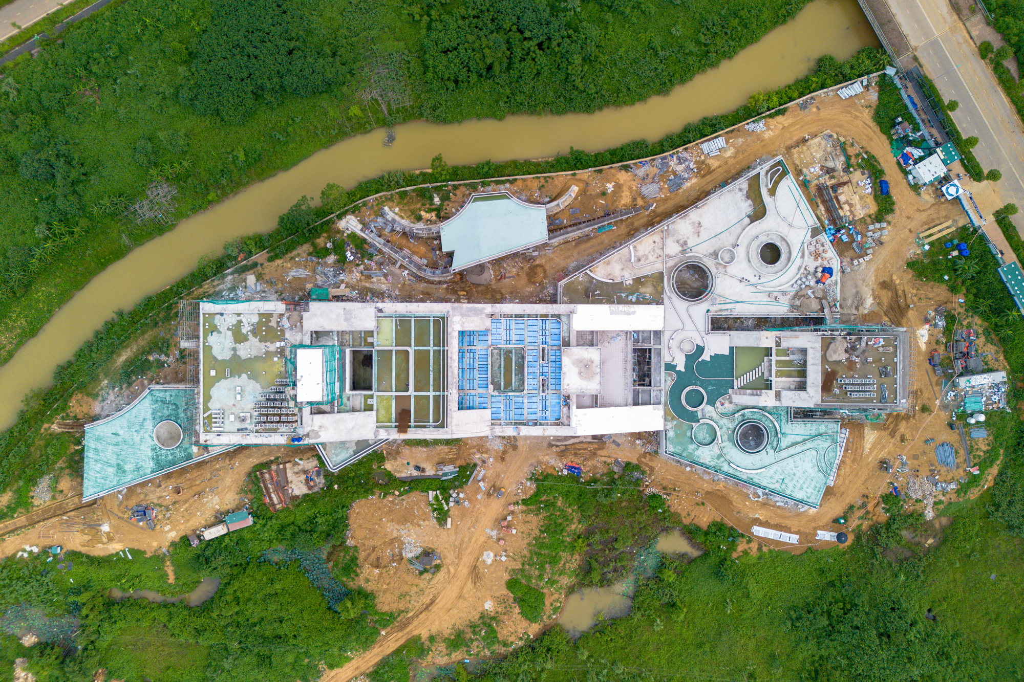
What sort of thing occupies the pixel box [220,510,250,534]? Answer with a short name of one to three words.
building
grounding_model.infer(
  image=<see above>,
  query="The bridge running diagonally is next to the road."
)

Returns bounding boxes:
[856,0,922,71]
